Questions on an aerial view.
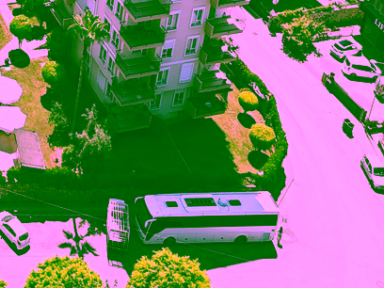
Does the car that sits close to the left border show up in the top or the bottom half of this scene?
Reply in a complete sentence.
You can find the car that sits close to the left border in the bottom half.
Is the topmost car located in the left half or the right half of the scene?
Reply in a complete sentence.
The topmost car is on the right side of the image.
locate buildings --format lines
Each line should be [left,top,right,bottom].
[355,0,384,57]
[45,0,273,127]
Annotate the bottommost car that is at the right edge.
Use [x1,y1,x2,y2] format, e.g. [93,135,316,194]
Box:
[359,157,384,191]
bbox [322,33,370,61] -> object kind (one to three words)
car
